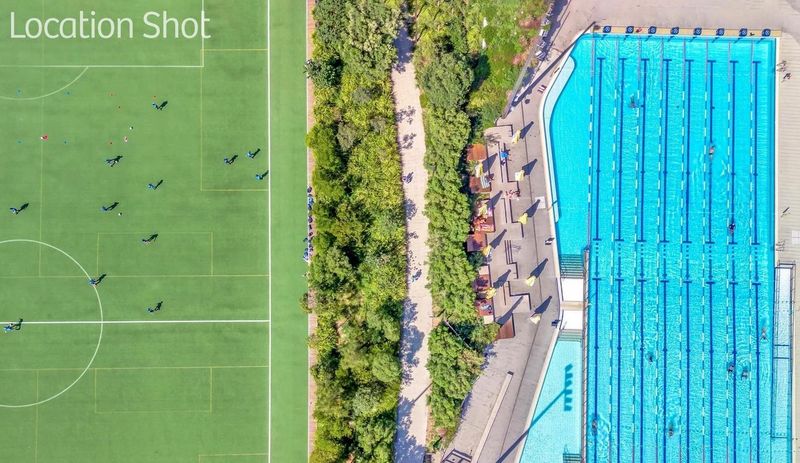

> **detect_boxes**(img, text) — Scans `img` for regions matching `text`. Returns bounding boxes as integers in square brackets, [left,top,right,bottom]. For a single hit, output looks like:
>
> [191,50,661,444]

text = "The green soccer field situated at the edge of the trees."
[0,0,308,463]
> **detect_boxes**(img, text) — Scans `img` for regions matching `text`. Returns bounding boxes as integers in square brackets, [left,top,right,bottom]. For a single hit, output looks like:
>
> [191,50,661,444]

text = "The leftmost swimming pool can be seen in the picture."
[516,311,584,463]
